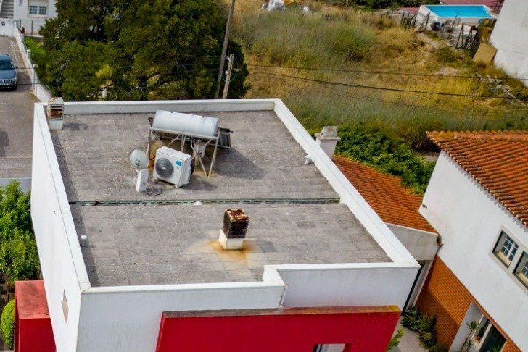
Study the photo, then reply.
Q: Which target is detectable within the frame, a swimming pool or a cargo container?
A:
swimming pool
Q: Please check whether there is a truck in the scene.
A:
No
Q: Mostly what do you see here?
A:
buildings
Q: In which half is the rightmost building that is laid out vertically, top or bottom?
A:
top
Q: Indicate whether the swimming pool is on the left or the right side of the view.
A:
right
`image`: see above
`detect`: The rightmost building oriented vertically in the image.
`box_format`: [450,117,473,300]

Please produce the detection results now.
[493,0,528,79]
